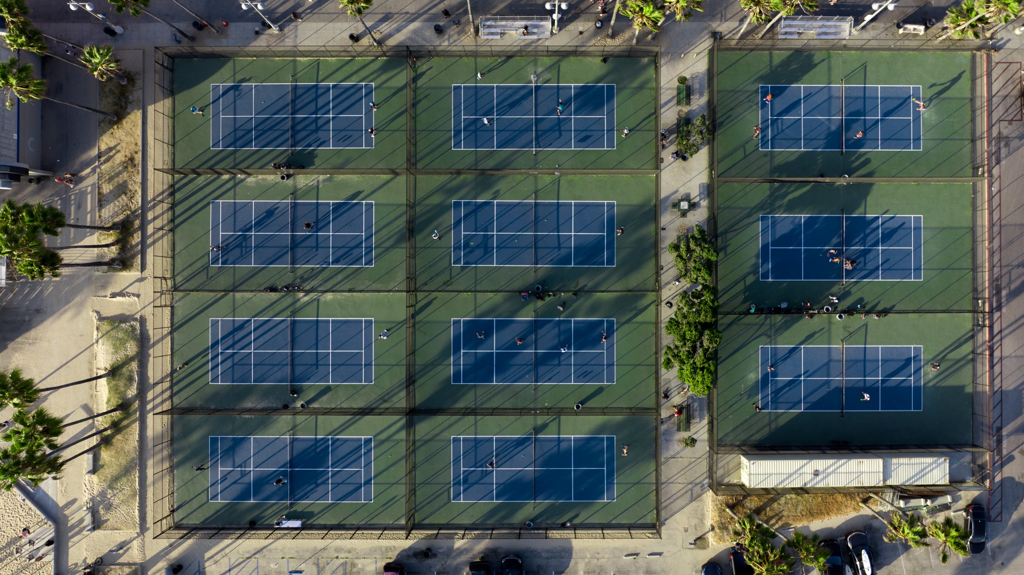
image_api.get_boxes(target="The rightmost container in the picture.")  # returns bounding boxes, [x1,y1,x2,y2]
[873,454,953,488]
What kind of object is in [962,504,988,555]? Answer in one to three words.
car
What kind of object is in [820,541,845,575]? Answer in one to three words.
car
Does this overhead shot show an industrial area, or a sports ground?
sports ground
